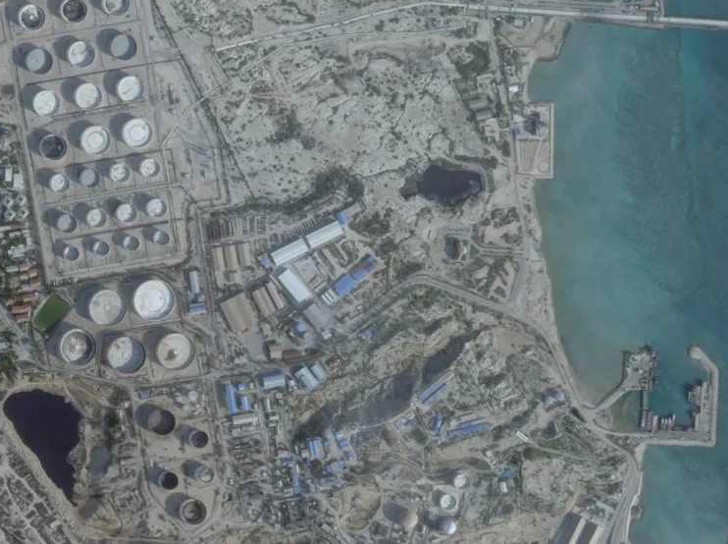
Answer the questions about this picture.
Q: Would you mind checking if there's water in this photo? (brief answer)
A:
Yes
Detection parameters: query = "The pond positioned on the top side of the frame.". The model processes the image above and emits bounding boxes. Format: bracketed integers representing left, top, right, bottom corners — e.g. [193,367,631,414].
[401,164,483,206]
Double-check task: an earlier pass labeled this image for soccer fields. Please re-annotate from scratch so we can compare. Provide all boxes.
[31,291,72,333]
